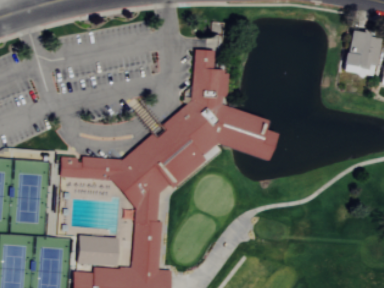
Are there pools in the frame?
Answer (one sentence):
Yes, there is a pool in the image.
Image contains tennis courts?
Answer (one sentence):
Yes, looking at the shot, I can spot a tennis court.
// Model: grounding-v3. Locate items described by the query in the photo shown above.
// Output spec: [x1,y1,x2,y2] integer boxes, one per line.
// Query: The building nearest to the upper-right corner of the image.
[346,31,384,78]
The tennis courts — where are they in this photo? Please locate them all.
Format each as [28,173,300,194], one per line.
[0,158,14,232]
[10,160,50,234]
[0,235,35,288]
[32,236,72,288]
